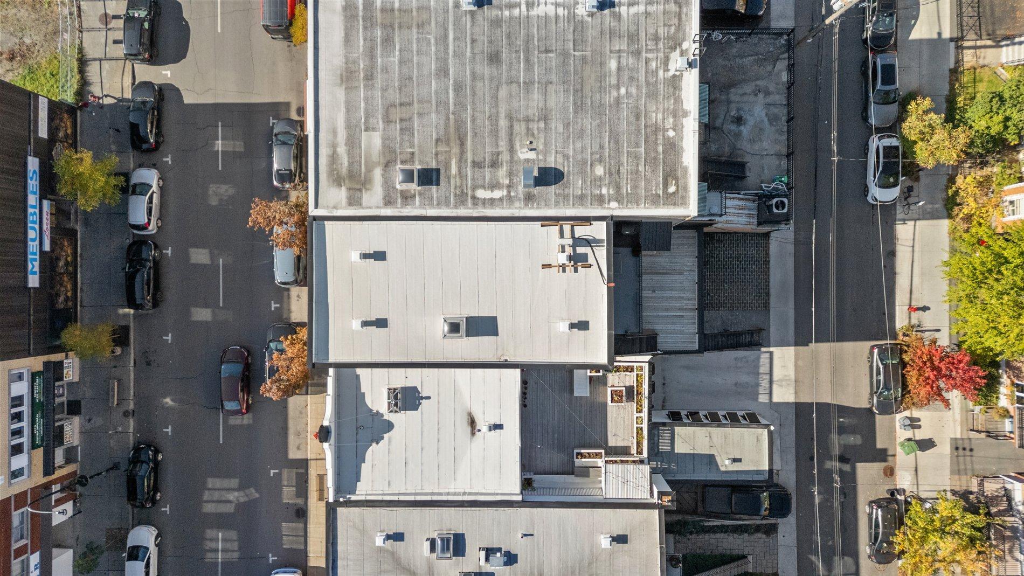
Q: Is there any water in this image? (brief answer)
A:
No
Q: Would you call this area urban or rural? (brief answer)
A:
urban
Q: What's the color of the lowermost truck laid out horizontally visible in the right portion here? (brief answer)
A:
black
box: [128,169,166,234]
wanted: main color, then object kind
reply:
gray car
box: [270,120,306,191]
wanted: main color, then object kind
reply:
gray car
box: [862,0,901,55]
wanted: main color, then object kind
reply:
black car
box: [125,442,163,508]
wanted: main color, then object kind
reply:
black car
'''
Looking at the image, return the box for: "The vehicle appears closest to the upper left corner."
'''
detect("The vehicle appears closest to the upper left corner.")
[122,0,162,67]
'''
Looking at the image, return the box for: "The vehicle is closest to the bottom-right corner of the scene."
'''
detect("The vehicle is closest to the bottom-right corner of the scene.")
[864,496,900,562]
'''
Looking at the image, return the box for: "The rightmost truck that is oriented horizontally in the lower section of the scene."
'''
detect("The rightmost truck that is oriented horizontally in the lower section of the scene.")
[699,484,789,523]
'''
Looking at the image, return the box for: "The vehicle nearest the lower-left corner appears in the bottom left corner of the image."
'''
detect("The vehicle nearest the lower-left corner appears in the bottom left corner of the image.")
[124,524,162,576]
